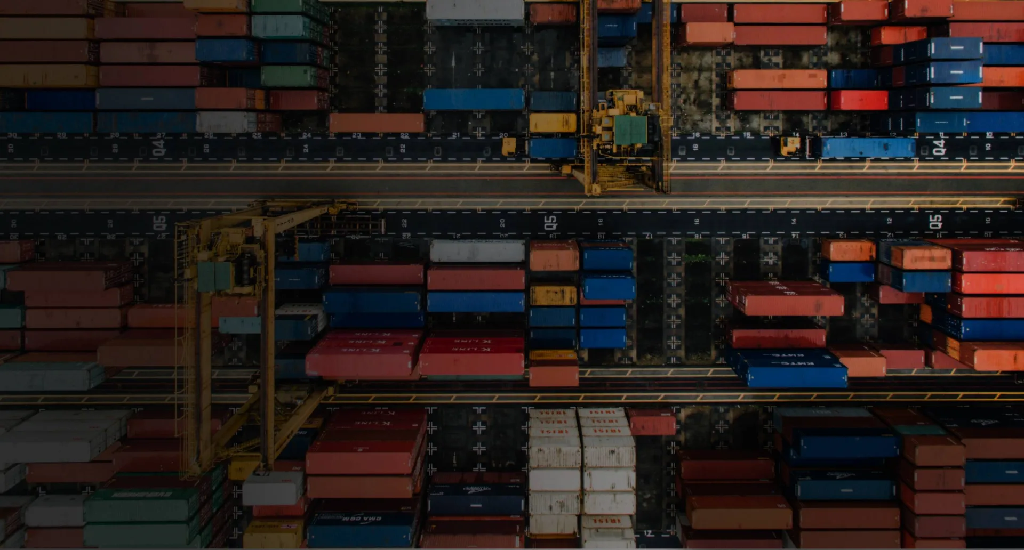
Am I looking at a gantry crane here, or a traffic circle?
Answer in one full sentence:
The image shows a gantry crane.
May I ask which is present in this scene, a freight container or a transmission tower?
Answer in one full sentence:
It is a freight container that can be seen here.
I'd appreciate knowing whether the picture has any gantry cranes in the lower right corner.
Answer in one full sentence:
No, looking in the lower right corner, there is no gantry crane.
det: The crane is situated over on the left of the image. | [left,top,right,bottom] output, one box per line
[180,201,355,476]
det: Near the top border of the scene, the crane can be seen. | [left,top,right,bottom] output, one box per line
[548,0,673,197]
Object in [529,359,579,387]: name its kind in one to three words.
shipping container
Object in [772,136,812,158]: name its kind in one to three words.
truck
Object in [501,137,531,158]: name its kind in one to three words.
truck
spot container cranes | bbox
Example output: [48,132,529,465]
[180,201,355,476]
[548,0,673,197]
